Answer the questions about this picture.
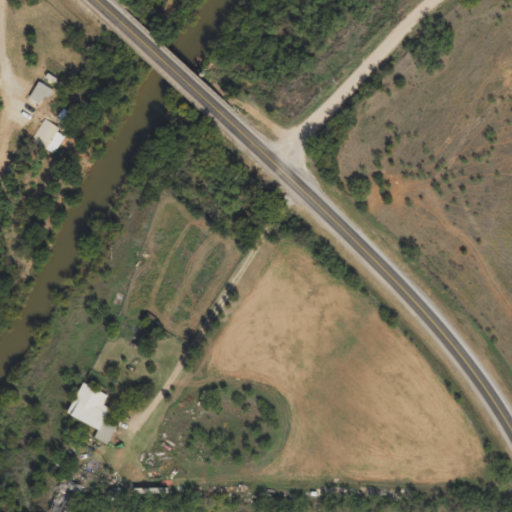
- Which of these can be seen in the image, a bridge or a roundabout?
bridge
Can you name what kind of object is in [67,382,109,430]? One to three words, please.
house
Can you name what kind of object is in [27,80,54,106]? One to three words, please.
house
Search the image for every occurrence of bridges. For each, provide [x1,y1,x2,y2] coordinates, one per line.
[110,10,235,127]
